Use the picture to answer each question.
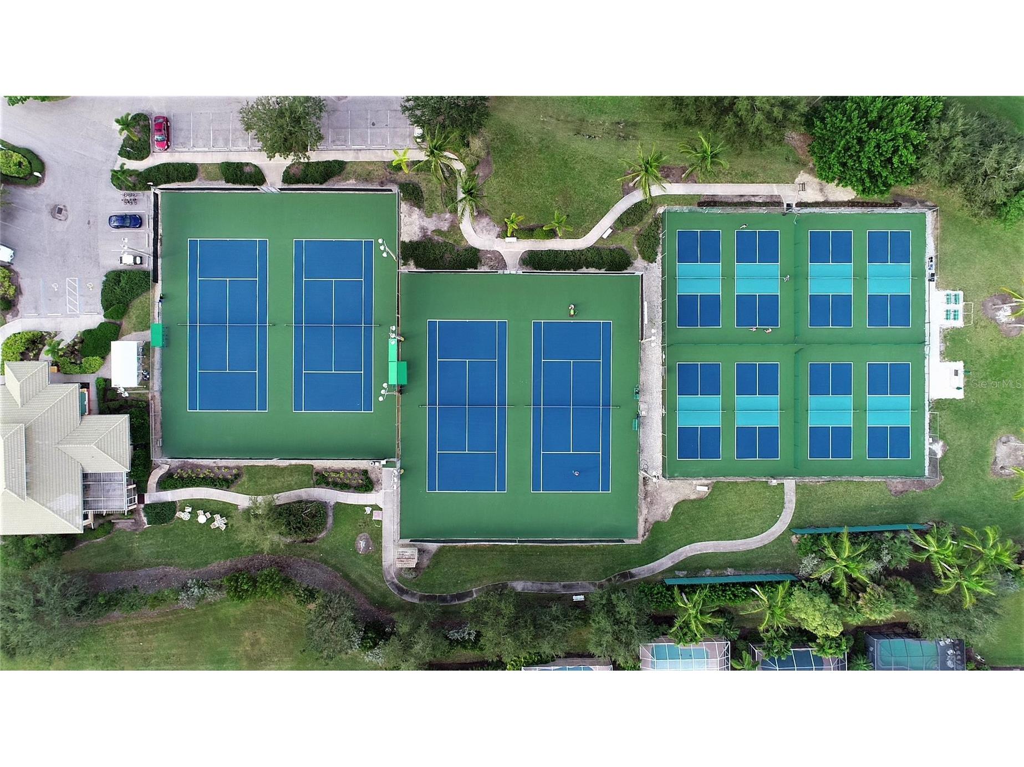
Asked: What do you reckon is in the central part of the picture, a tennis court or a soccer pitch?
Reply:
tennis court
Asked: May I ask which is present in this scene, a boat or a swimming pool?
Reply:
swimming pool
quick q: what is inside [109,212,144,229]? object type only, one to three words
car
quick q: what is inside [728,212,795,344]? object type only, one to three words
sports court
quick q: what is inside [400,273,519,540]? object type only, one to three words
tennis court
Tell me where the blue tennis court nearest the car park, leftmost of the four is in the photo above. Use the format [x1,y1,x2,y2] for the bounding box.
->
[161,192,280,459]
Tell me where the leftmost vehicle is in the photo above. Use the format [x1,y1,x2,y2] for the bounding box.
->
[0,243,24,264]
